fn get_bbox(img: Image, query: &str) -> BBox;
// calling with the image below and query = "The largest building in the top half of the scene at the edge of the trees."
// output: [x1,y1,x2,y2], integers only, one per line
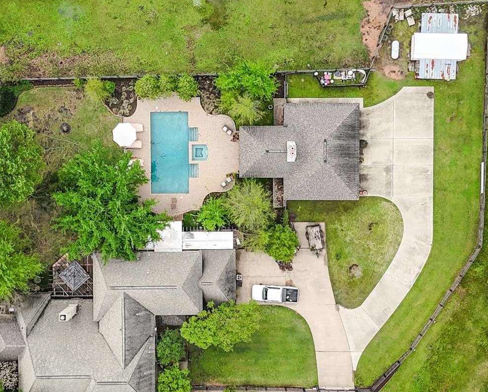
[238,102,360,201]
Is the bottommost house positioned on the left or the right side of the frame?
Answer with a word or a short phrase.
left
